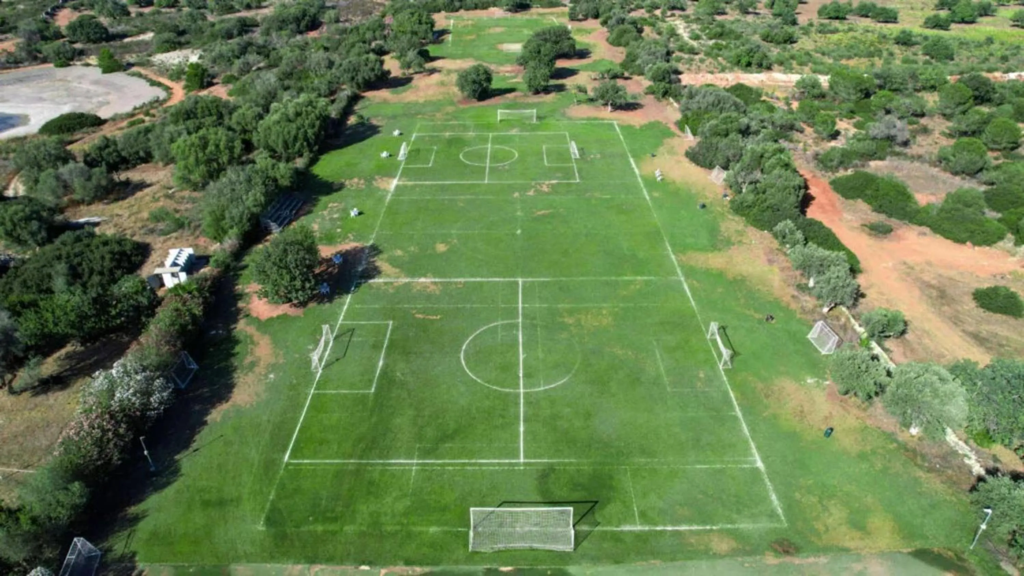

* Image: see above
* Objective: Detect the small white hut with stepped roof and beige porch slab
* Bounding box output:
[154,245,197,288]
